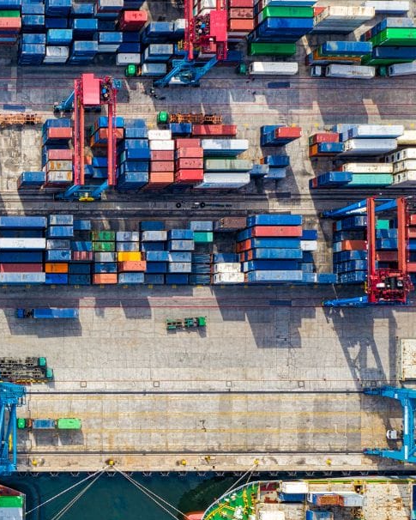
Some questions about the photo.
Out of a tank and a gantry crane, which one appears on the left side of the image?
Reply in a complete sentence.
Looking on the left side of the image, you will find a gantry crane.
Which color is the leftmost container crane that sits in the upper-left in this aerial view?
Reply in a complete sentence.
The leftmost container crane that sits in the upper-left looks red in the image.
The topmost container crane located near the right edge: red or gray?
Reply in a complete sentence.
The color of the topmost container crane located near the right edge is red.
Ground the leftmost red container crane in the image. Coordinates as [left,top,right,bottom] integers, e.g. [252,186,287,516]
[54,71,126,203]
